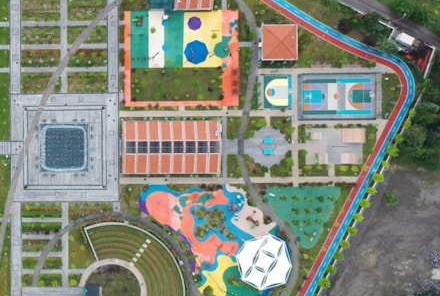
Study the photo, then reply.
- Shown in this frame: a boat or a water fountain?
water fountain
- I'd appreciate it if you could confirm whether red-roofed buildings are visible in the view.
Yes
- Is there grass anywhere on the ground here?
Yes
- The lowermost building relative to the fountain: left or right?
right of it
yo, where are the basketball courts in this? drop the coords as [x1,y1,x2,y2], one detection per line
[299,73,379,119]
[263,75,292,109]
